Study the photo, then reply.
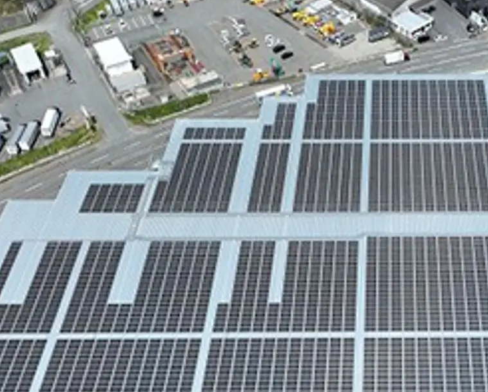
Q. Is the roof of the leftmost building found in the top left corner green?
No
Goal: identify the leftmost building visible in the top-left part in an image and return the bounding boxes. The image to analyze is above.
[11,43,46,84]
